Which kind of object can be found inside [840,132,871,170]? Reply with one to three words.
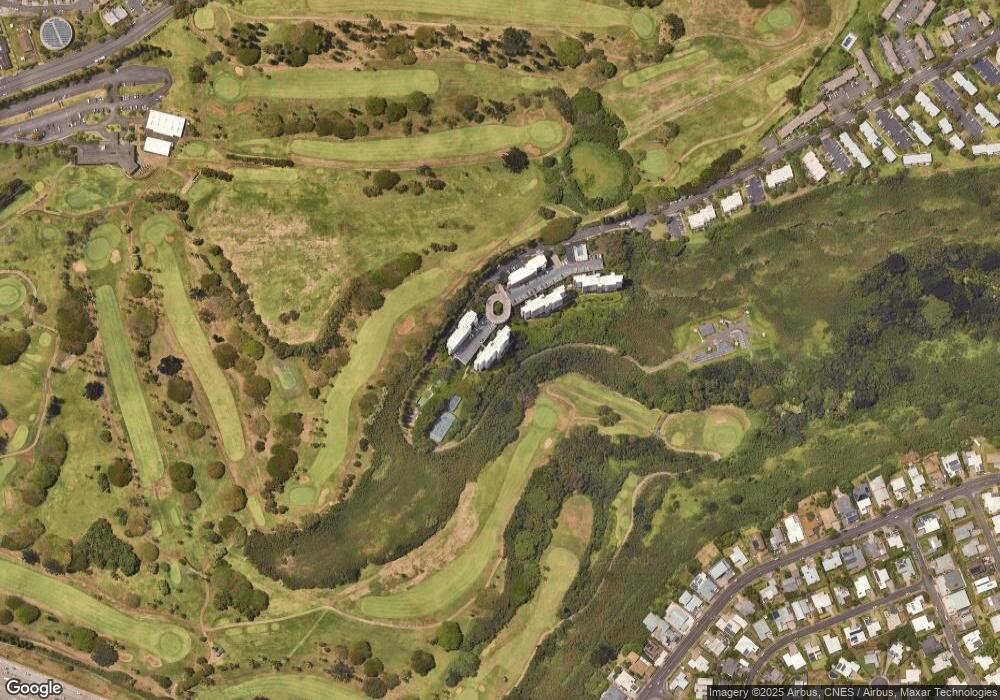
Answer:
building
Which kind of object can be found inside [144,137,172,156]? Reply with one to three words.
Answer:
shed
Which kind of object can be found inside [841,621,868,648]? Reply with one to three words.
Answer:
house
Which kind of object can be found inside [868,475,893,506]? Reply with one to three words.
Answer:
house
